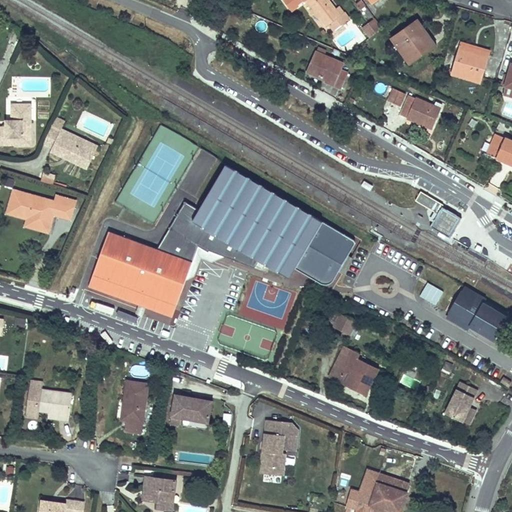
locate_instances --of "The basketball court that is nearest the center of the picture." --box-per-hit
[238,275,296,332]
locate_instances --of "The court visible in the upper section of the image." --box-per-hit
[114,124,200,224]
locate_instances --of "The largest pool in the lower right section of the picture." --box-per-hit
[400,374,421,390]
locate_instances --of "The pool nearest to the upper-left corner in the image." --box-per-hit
[6,76,51,121]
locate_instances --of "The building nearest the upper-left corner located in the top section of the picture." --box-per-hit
[0,103,36,148]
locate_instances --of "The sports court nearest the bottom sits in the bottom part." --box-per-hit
[217,316,278,361]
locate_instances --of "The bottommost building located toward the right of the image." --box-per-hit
[344,468,410,512]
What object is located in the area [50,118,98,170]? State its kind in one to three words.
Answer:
house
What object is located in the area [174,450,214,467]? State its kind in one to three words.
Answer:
swimming pool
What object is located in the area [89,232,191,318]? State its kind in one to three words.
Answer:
building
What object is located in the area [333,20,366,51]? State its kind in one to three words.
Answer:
swimming pool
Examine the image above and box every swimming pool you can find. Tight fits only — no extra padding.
[174,450,214,467]
[0,481,14,512]
[500,96,512,120]
[374,82,388,95]
[176,504,210,512]
[256,20,268,32]
[333,20,366,51]
[0,356,9,370]
[77,110,114,142]
[400,374,421,390]
[6,76,51,121]
[129,364,149,378]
